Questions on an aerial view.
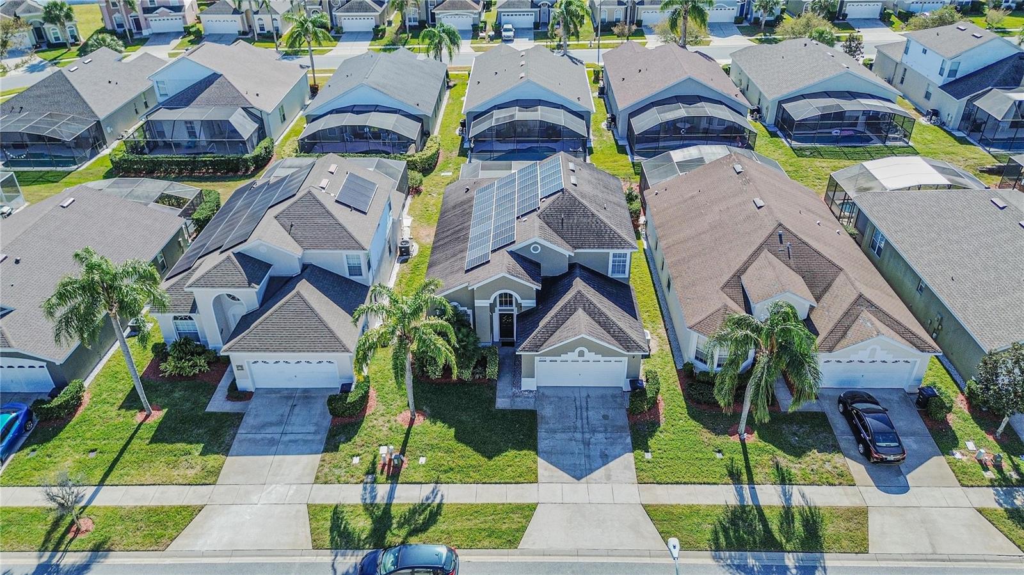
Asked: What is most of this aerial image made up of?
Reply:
buildings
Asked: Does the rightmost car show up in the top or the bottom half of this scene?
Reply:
bottom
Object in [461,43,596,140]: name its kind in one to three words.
house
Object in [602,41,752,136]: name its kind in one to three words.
house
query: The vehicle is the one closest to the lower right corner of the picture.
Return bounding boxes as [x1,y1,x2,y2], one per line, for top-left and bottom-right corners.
[842,393,910,462]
